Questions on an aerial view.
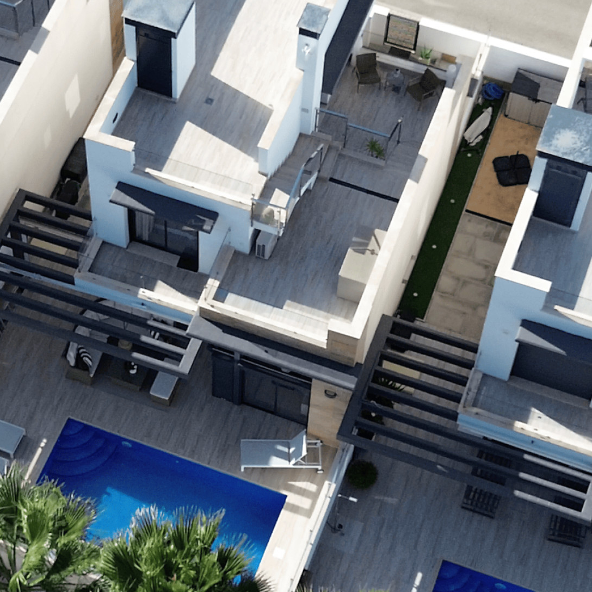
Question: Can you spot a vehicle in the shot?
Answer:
No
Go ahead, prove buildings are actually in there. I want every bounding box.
[75,0,477,447]
[458,4,592,531]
